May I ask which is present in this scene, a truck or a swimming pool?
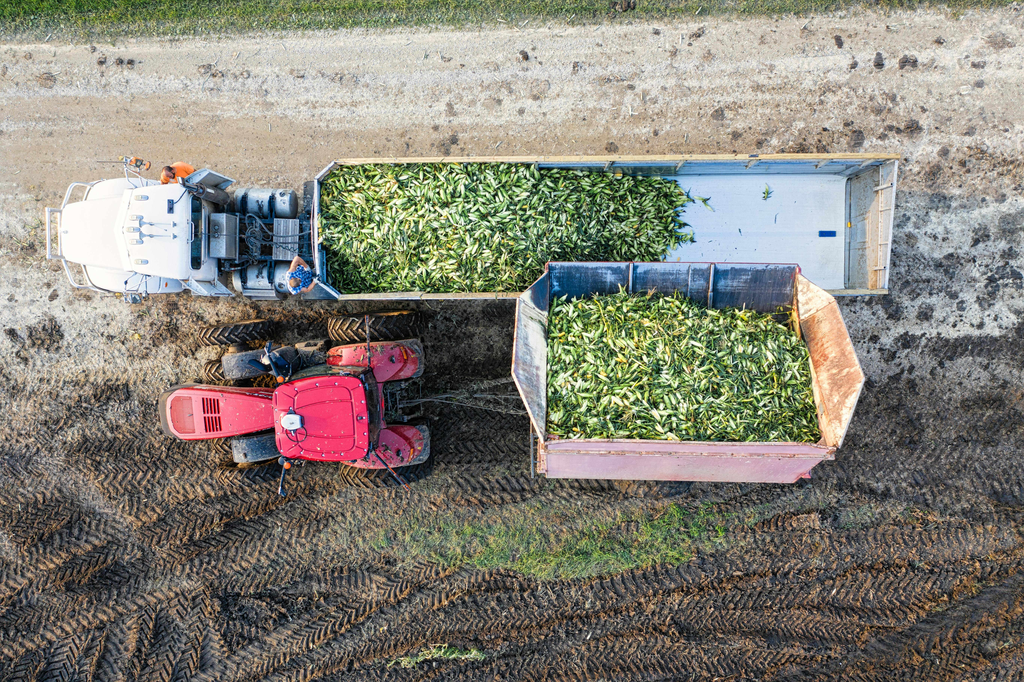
truck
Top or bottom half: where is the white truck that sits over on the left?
top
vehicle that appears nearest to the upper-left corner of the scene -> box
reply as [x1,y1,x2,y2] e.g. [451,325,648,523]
[45,156,348,306]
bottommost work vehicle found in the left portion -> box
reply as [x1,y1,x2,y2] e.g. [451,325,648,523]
[159,313,438,498]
